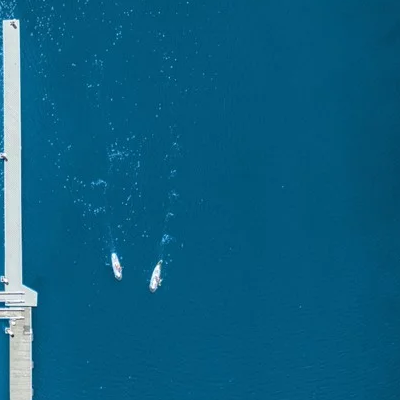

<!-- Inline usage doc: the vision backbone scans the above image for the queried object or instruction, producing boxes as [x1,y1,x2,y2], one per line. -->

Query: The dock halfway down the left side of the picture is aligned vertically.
[3,20,37,306]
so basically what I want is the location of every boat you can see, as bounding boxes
[151,262,161,291]
[113,254,122,280]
